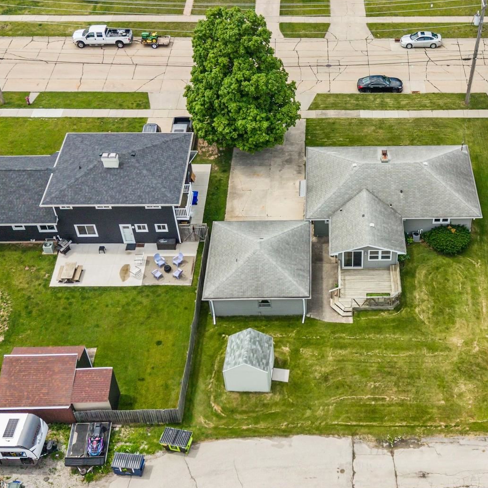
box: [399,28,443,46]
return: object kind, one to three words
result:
car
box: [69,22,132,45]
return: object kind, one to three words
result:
truck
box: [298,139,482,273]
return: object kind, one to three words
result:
house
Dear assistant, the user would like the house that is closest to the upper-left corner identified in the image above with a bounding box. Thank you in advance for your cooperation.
[0,132,206,244]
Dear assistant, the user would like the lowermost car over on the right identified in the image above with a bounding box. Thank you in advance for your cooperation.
[357,71,404,91]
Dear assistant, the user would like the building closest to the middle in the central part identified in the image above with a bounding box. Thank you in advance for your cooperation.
[201,220,312,323]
